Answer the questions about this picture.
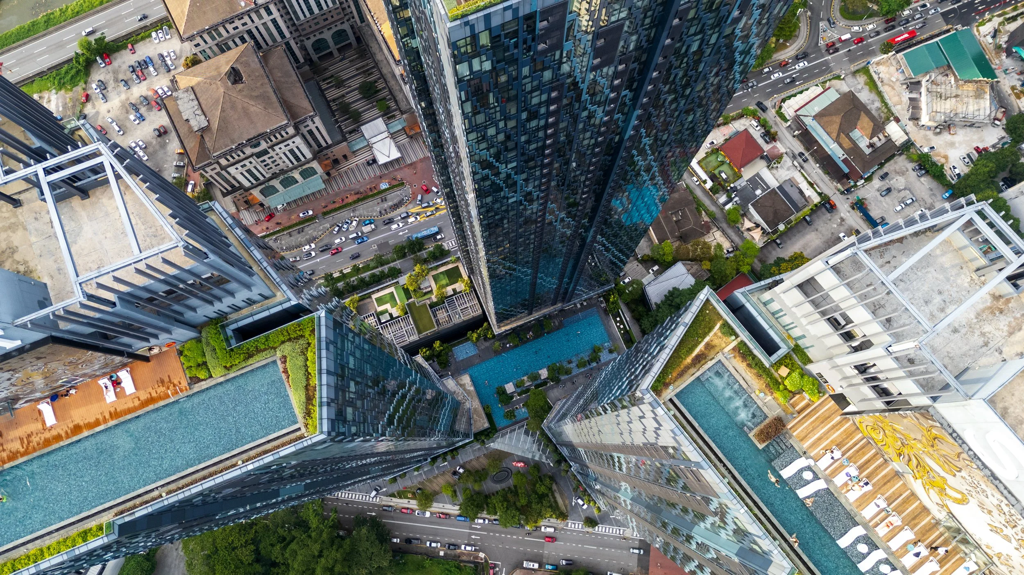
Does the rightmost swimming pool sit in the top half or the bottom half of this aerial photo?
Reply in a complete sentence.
The bottom half of the photo is where the rightmost swimming pool is.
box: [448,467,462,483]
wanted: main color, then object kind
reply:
black vehicle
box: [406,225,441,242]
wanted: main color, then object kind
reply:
blue vehicle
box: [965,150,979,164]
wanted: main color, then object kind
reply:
gray vehicle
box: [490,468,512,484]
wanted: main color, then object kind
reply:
black fountain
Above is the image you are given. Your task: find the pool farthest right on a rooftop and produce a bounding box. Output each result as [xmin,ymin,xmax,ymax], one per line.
[675,360,860,575]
